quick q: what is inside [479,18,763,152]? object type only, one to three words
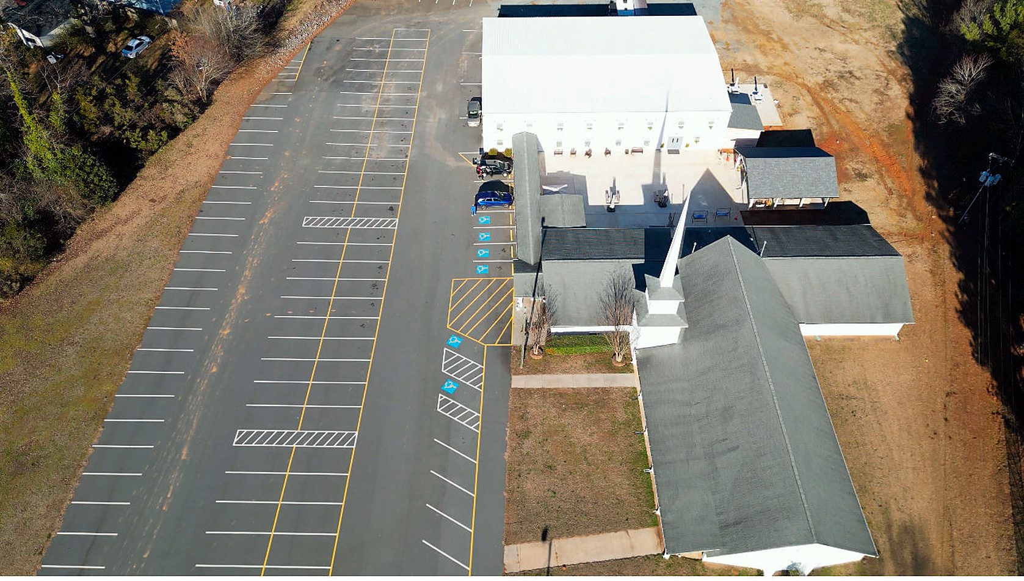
building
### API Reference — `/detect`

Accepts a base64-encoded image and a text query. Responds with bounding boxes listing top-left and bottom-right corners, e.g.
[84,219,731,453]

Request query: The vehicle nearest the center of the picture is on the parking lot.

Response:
[475,187,514,206]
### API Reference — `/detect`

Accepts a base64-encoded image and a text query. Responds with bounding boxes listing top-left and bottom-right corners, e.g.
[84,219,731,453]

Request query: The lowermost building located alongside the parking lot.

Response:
[513,195,914,581]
